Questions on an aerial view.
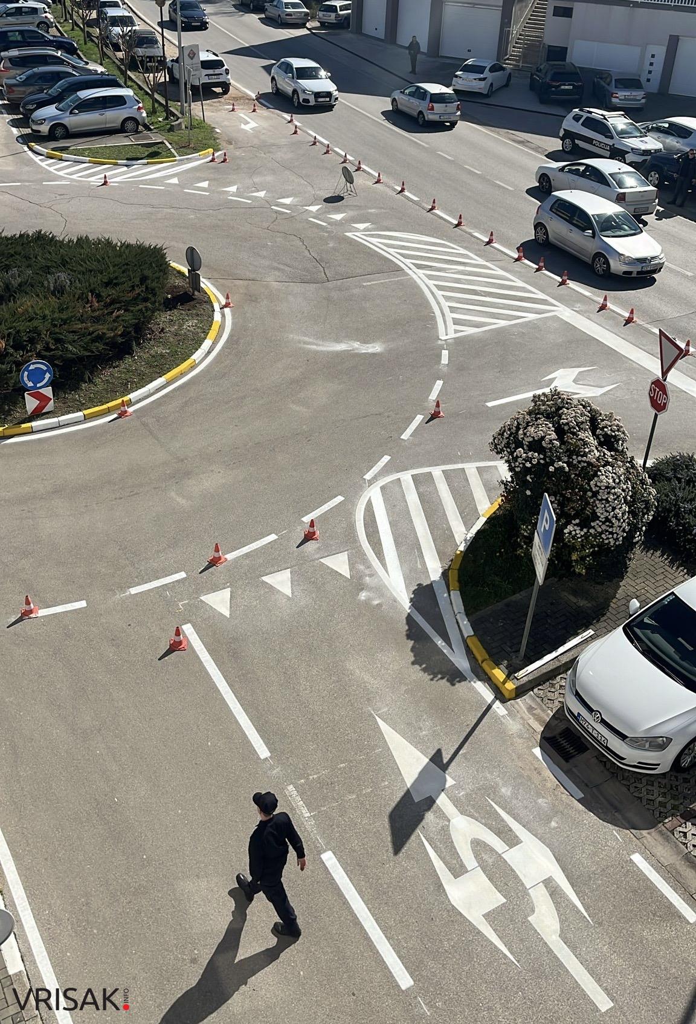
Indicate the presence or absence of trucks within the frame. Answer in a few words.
No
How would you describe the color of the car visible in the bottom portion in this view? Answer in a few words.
white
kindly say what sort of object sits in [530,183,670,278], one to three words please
car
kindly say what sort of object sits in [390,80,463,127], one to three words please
car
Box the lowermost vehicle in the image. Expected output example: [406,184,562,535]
[561,590,696,777]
